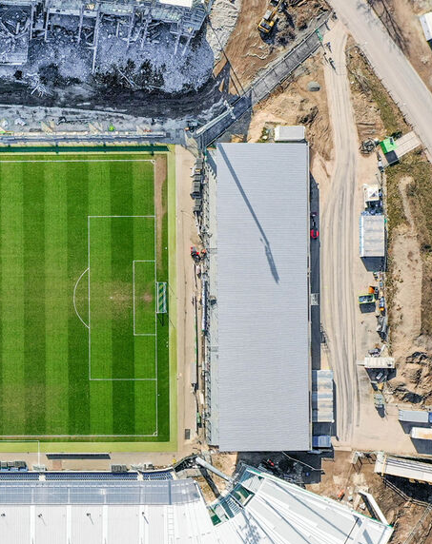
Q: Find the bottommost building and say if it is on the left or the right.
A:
right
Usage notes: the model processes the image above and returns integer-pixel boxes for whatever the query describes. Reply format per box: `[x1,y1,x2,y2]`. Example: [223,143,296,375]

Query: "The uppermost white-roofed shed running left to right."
[269,126,306,143]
